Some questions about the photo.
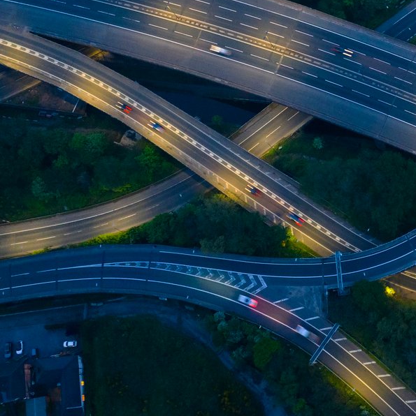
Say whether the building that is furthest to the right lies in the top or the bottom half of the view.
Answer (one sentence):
The building that is furthest to the right sits in the bottom half of the picture.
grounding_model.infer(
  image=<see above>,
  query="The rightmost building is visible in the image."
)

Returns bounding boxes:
[58,355,92,414]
